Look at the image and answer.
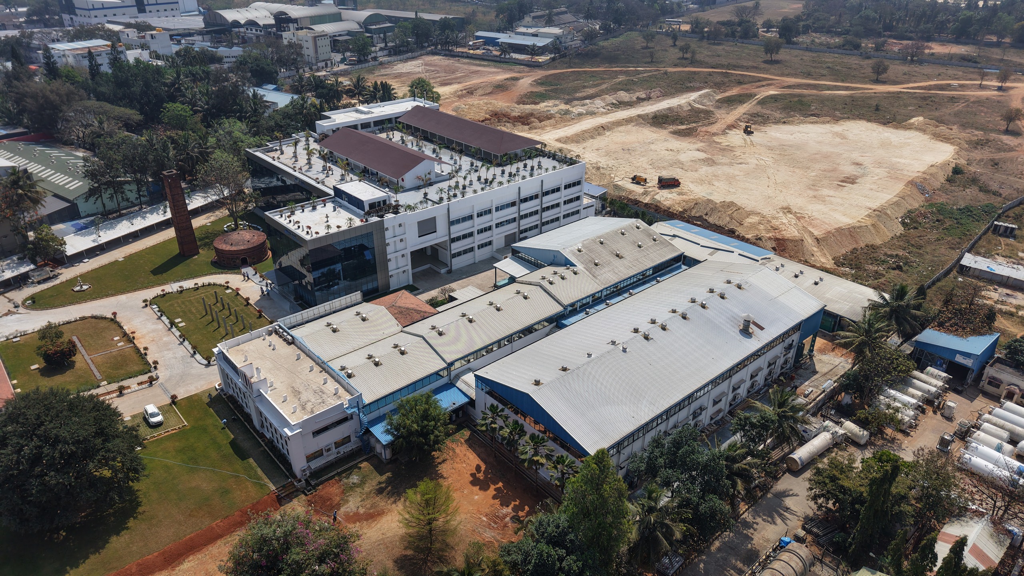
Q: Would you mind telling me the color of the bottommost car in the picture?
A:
white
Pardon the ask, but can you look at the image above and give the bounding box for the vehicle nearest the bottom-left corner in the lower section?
[140,397,163,423]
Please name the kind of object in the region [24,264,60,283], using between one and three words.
vehicle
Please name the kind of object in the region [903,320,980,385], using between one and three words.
shed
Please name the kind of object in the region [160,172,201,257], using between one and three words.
chimney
